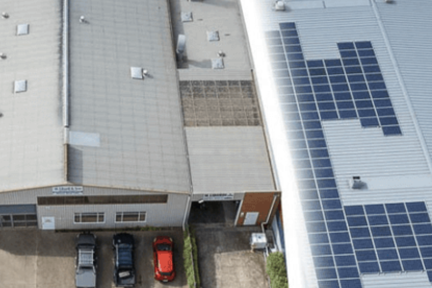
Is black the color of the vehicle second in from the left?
Yes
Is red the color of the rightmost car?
Yes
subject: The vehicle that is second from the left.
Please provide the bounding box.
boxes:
[111,233,138,288]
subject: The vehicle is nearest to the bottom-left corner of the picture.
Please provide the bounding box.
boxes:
[72,234,100,288]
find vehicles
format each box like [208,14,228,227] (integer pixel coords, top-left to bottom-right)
[152,236,177,283]
[72,234,100,288]
[111,233,138,288]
